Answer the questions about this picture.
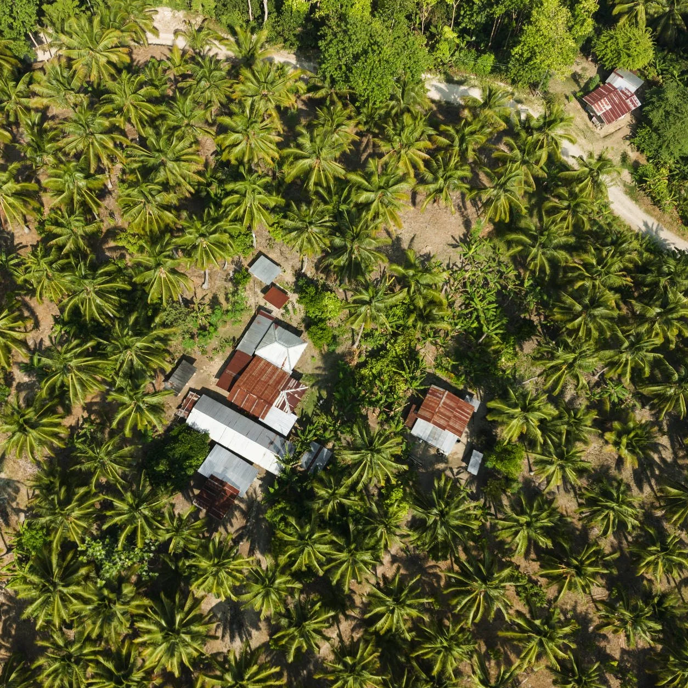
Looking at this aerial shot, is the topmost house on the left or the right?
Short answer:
right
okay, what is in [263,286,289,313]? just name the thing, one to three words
shed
